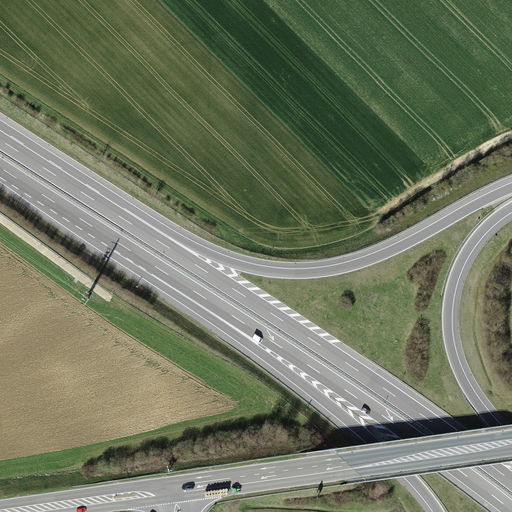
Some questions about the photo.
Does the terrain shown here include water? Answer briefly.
No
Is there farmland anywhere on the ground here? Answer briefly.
Yes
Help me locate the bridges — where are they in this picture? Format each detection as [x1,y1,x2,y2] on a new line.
[329,426,512,484]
